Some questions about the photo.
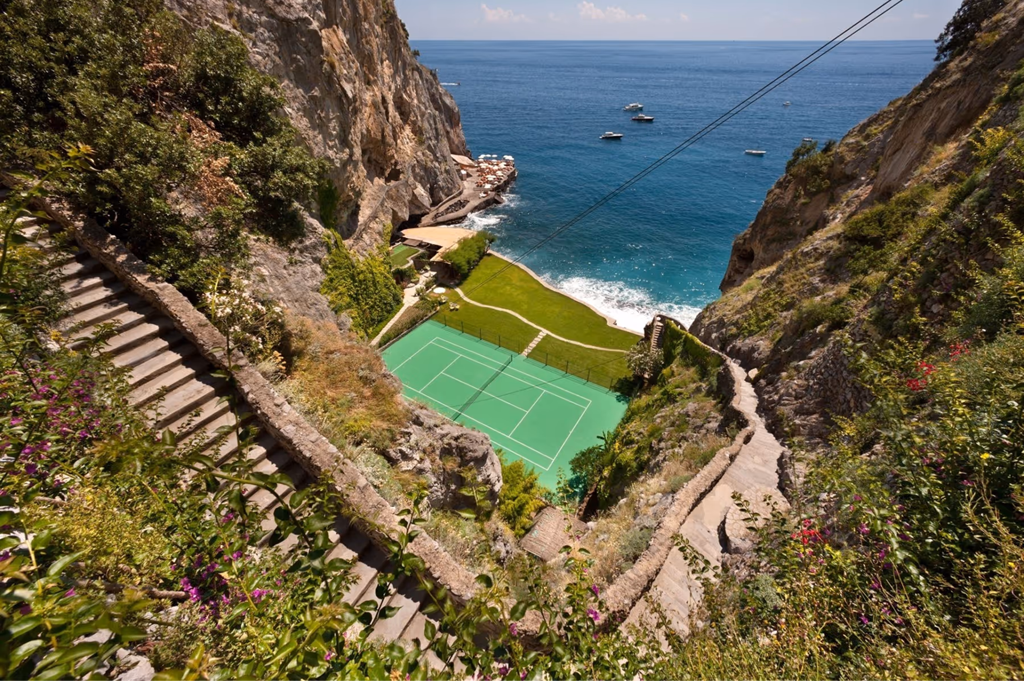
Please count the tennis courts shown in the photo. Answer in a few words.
1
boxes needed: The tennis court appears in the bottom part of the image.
[378,320,630,515]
